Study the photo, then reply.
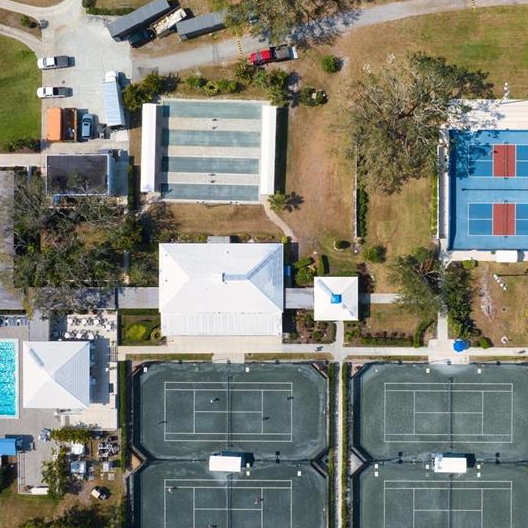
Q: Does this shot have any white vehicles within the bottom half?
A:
No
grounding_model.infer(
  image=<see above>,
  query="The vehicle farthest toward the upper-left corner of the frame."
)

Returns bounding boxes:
[38,55,72,69]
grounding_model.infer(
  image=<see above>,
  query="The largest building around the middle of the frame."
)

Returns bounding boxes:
[158,235,284,336]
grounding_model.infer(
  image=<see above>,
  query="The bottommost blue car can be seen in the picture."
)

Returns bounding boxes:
[81,114,94,140]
